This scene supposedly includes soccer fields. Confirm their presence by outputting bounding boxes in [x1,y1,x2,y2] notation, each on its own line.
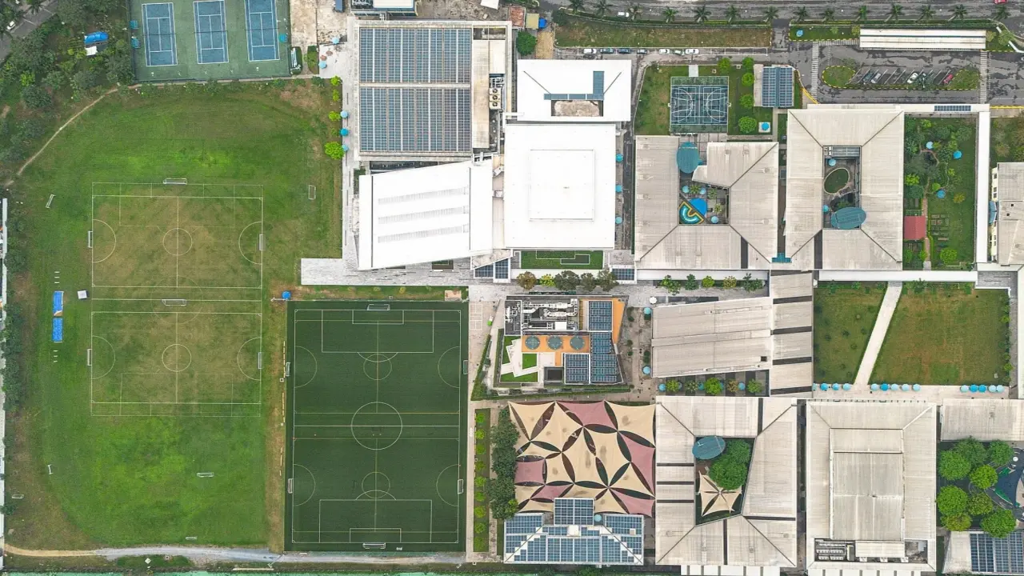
[284,300,468,553]
[91,183,263,416]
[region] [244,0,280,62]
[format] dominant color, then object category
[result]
blue tennis court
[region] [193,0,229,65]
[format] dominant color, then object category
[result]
blue tennis court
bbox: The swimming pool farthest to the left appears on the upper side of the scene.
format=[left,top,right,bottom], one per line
[679,201,705,224]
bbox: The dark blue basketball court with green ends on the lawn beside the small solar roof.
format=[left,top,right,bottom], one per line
[670,76,729,133]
